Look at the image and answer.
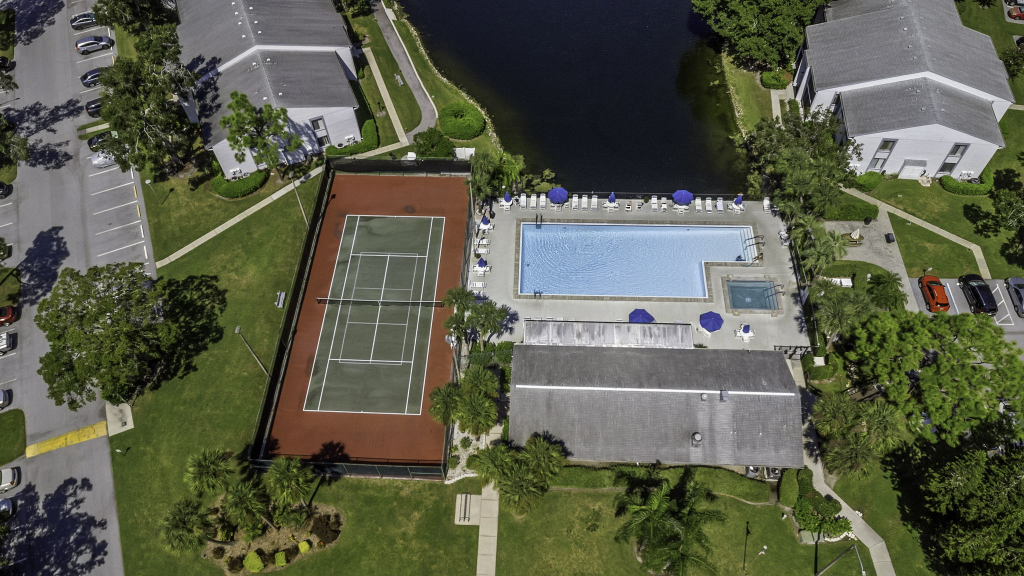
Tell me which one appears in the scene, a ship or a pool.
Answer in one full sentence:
Of the two, only a pool appears.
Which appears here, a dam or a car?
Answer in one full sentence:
There is a car in the scene.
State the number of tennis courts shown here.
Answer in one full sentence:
Only 1 tennis court is visible.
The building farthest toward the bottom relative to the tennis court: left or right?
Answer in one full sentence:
The building farthest toward the bottom appears to the right of the tennis court in this view.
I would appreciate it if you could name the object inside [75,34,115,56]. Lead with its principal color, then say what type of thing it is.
gray car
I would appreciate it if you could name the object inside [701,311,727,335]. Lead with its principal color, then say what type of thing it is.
blue umbrella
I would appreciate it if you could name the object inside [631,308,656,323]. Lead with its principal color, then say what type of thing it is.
blue umbrella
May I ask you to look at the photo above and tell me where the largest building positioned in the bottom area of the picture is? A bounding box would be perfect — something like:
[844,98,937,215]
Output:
[510,344,805,470]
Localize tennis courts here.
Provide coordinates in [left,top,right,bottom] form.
[262,174,472,478]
